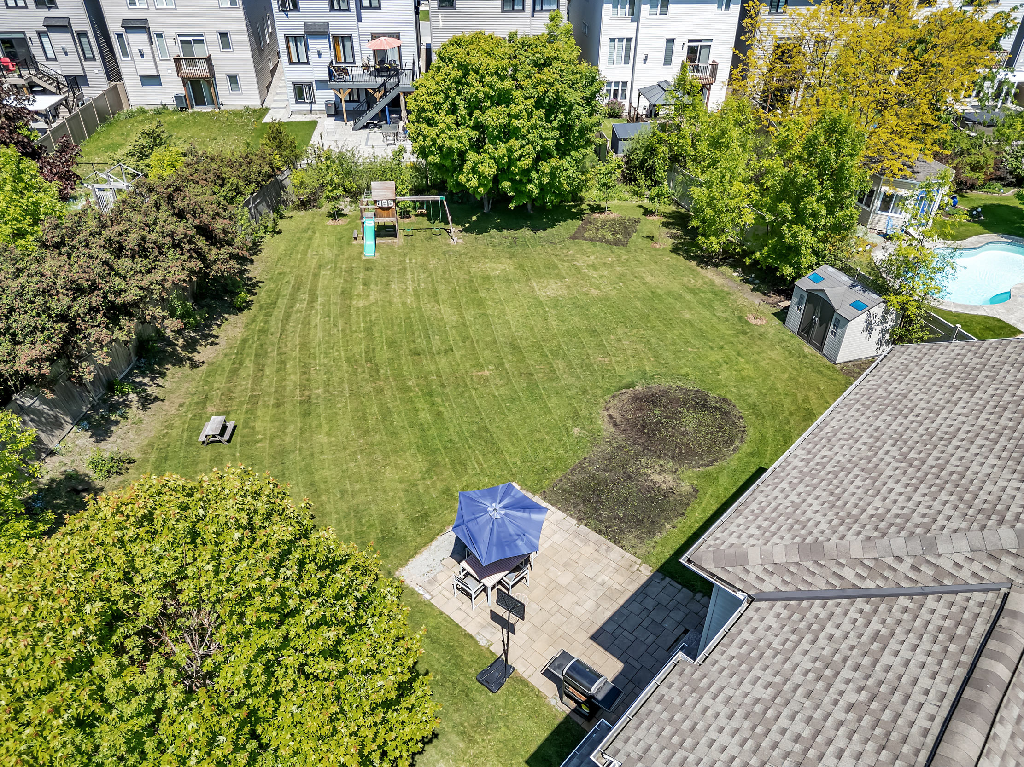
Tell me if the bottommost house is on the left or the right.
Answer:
right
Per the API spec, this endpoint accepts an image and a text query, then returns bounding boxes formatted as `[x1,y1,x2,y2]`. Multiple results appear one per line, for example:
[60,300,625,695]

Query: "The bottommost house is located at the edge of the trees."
[551,341,1024,767]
